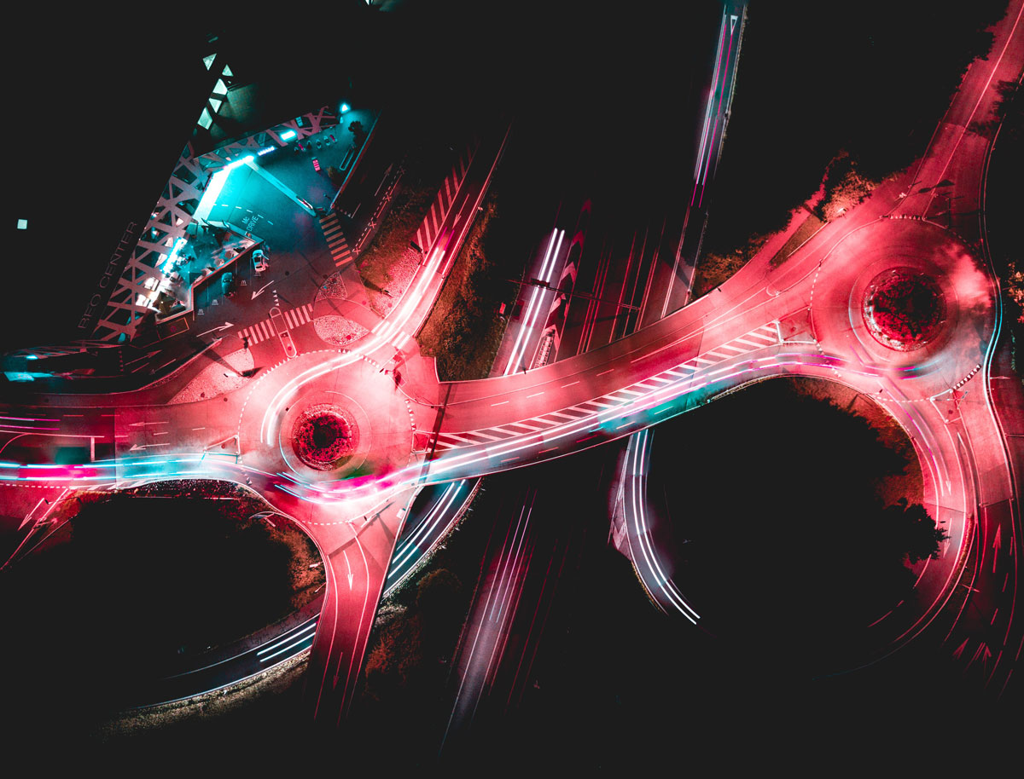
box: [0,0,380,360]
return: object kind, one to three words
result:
building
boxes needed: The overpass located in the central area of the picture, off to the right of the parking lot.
[431,274,735,485]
